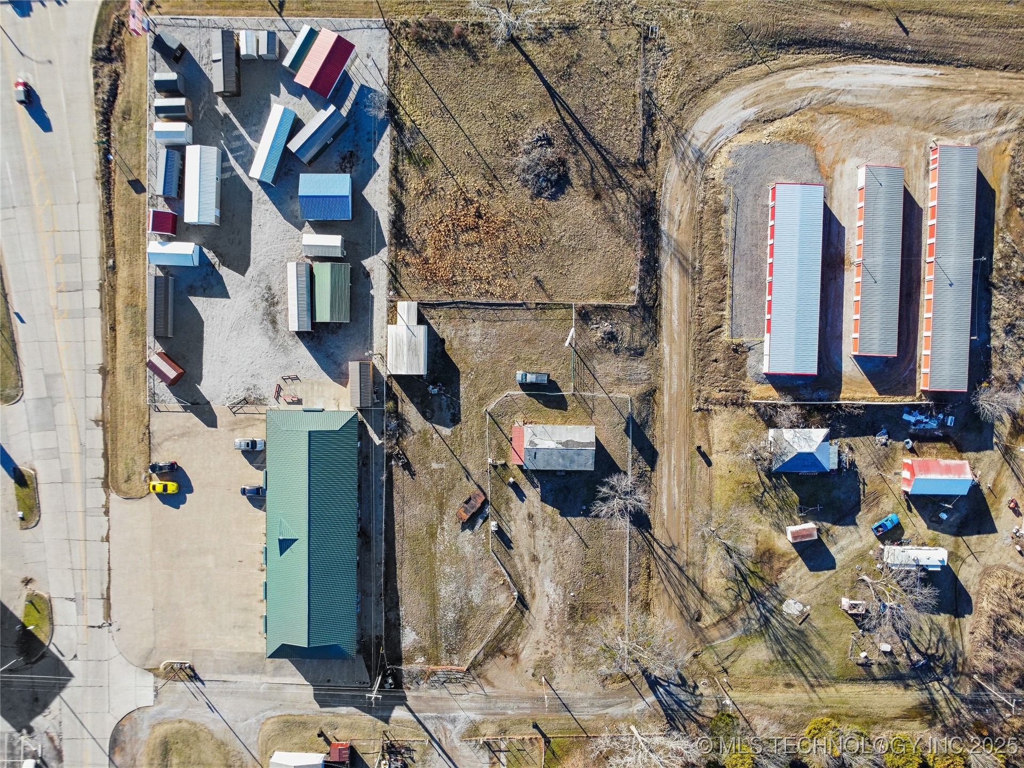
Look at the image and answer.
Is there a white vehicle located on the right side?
Yes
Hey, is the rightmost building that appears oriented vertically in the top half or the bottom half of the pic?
top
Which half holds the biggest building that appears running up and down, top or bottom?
bottom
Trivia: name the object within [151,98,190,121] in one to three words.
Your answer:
shed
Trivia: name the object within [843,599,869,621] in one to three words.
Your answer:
truck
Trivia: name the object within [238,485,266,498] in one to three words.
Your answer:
vehicle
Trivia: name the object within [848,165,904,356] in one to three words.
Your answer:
building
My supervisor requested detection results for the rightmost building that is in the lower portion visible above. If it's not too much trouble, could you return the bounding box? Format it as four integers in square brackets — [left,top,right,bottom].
[897,458,977,495]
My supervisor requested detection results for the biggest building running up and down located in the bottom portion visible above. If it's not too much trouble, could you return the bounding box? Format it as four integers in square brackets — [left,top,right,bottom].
[263,407,358,659]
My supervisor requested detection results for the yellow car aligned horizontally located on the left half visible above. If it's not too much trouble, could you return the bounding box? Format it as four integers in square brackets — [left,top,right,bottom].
[147,480,178,494]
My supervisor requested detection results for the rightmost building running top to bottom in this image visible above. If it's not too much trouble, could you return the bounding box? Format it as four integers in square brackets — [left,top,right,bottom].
[916,145,978,391]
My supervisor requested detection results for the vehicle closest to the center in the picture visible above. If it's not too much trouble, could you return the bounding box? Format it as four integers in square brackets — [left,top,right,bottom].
[516,371,549,384]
